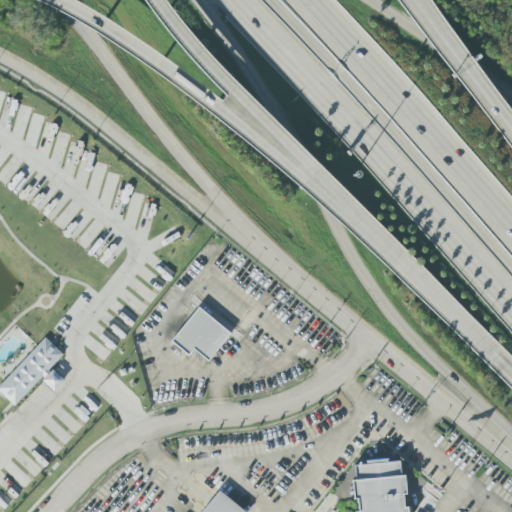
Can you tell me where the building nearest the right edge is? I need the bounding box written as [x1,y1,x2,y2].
[344,458,410,512]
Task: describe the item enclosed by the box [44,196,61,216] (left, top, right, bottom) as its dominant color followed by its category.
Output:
white camper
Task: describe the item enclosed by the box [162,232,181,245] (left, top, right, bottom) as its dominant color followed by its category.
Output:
white vehicle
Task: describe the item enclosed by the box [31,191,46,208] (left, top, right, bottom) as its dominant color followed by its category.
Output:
white camper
